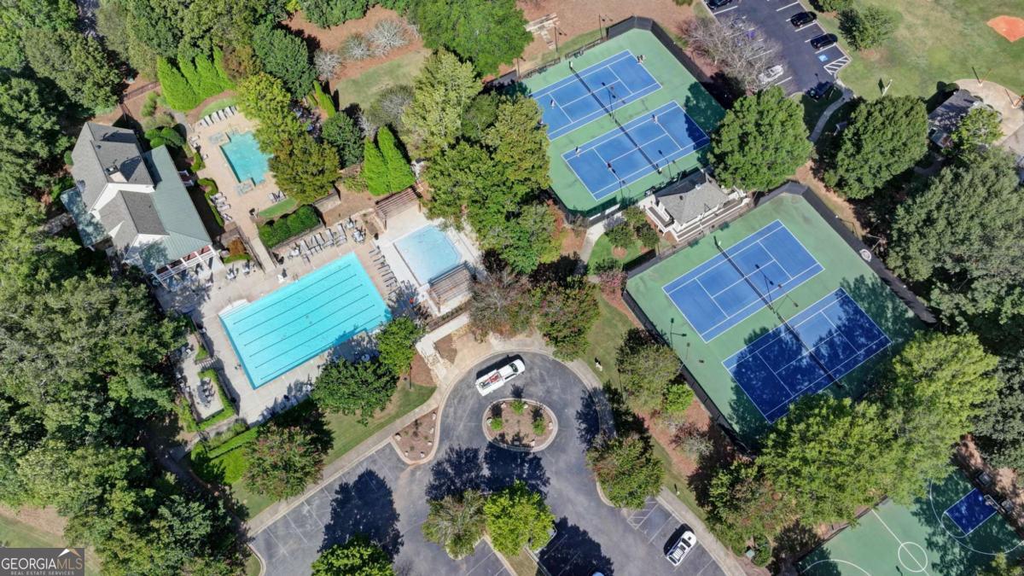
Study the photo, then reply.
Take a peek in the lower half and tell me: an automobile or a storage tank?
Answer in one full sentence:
You can see an automobile in the lower half.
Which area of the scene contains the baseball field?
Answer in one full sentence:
You can find the baseball field in the top right area of the picture.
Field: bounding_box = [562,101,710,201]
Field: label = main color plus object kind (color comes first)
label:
blue tennis court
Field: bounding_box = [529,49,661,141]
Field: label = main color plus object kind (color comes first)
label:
blue tennis court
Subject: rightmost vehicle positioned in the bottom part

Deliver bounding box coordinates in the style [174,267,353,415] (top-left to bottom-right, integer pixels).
[666,529,699,565]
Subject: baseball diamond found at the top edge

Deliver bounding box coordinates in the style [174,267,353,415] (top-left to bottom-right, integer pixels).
[988,15,1024,42]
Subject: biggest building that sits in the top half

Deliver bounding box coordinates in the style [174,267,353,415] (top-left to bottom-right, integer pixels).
[65,123,225,292]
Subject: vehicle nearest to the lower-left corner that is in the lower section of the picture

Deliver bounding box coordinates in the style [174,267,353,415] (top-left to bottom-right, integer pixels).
[480,363,521,392]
